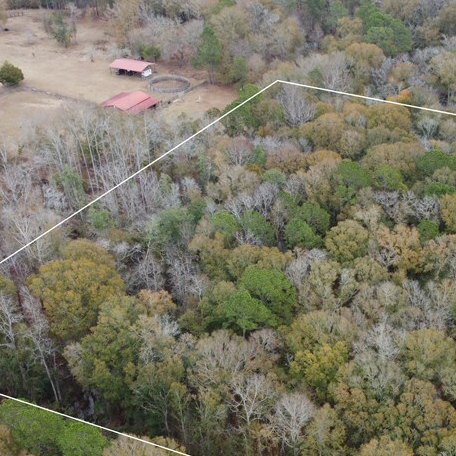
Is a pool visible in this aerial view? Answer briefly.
No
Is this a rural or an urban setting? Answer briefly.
rural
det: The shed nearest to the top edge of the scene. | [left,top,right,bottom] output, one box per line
[110,56,156,79]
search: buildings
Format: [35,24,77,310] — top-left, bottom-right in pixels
[110,56,156,79]
[97,90,162,125]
